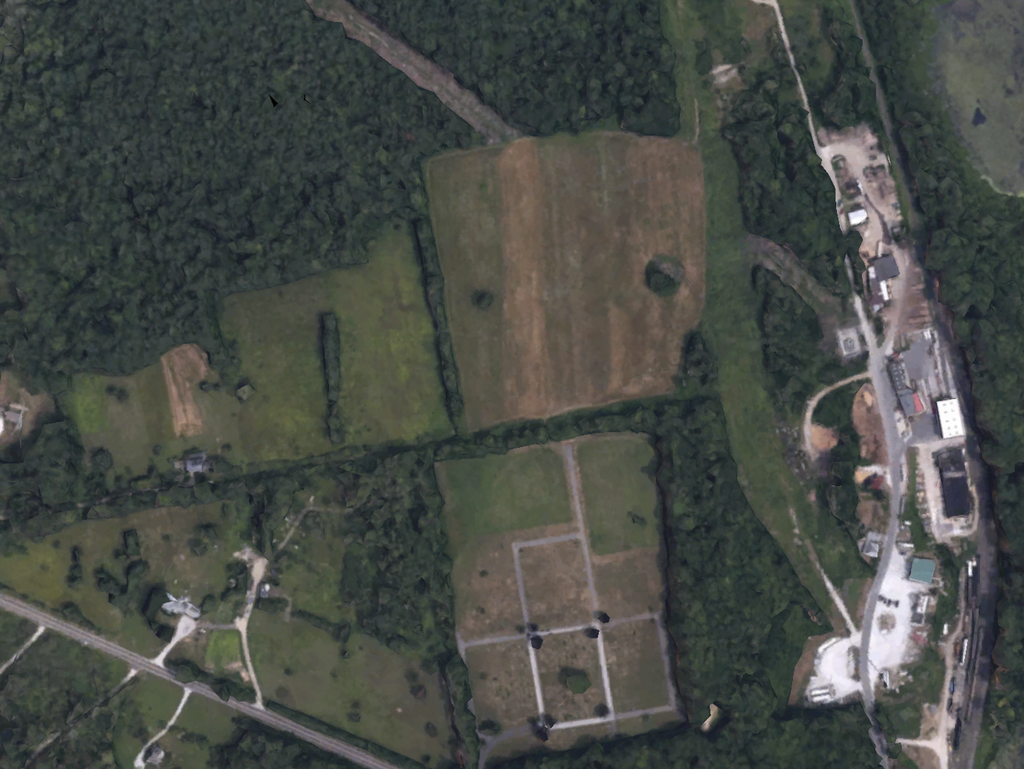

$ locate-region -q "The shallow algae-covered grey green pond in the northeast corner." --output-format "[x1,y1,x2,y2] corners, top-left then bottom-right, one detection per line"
[933,0,1024,190]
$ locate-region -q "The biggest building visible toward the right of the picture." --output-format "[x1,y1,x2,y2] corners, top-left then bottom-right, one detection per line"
[935,450,974,518]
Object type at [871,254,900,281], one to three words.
building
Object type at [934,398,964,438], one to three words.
building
